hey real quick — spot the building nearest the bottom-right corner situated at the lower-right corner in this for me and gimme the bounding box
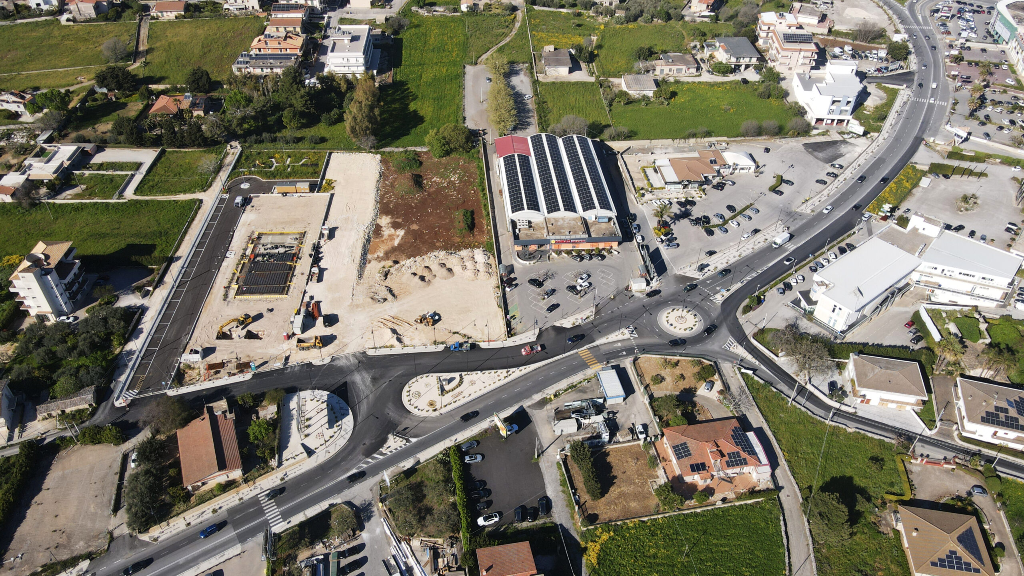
[894,505,996,576]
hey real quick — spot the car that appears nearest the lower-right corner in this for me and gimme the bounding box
[968,485,991,499]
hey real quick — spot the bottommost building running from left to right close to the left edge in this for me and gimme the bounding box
[37,387,99,423]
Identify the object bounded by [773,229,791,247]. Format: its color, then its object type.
white vehicle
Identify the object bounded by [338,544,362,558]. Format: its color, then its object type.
black car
